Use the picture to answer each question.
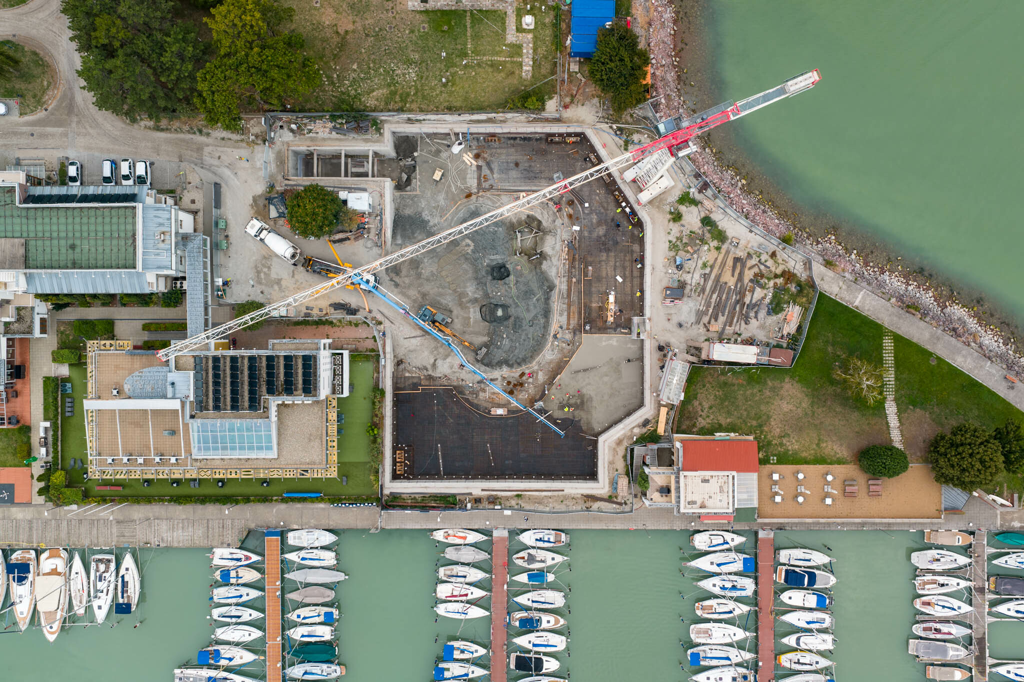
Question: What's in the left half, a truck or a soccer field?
truck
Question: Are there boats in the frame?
Yes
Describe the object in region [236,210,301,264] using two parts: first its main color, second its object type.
white truck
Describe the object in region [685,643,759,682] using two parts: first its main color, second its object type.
white boat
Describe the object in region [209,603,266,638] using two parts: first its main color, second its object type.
white boat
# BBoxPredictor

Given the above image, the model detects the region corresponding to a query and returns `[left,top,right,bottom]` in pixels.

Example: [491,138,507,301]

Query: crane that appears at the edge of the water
[159,64,827,361]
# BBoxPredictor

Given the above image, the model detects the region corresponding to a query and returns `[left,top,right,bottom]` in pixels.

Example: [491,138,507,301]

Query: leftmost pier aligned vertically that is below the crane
[259,526,290,682]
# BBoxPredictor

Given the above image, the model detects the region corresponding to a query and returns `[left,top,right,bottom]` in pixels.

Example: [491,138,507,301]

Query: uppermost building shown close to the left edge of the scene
[0,166,205,293]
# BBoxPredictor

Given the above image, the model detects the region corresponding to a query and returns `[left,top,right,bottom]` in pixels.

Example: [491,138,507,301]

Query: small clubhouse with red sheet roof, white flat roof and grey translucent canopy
[633,432,759,522]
